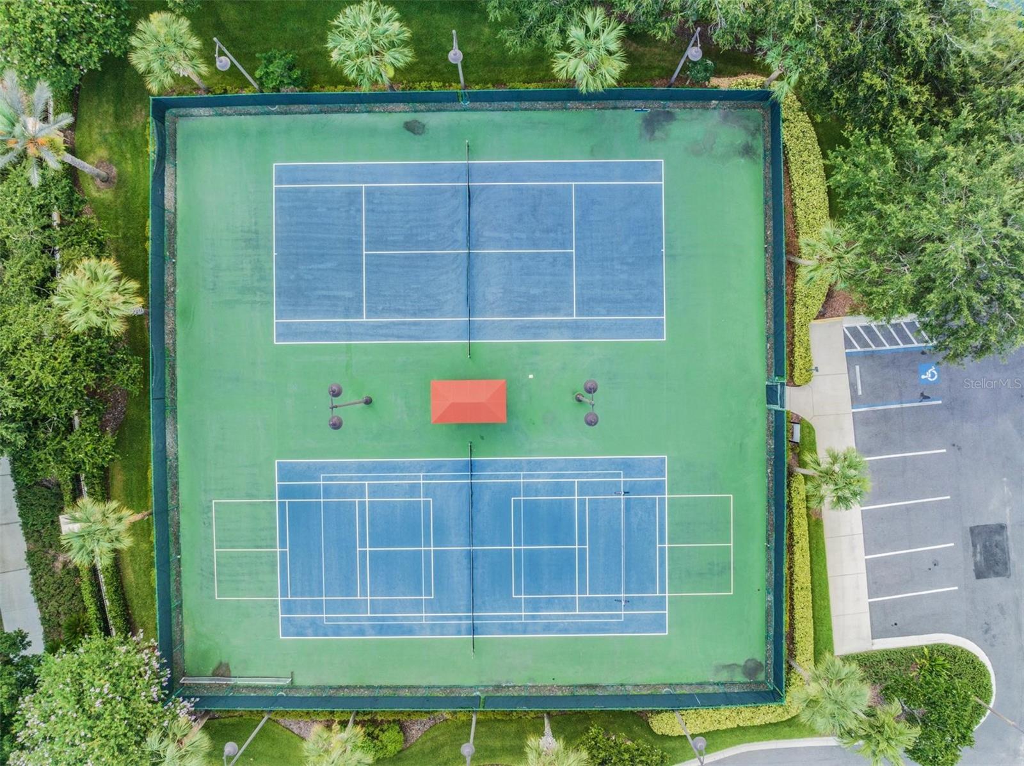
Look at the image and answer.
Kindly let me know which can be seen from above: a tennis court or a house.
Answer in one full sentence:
Looking from above, you can make out a tennis court.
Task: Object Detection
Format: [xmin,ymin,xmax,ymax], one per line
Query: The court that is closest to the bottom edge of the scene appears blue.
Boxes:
[213,456,733,638]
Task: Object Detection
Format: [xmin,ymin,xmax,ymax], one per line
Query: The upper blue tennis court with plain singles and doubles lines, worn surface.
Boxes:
[274,160,665,344]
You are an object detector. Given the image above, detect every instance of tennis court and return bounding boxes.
[213,456,733,638]
[274,160,665,344]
